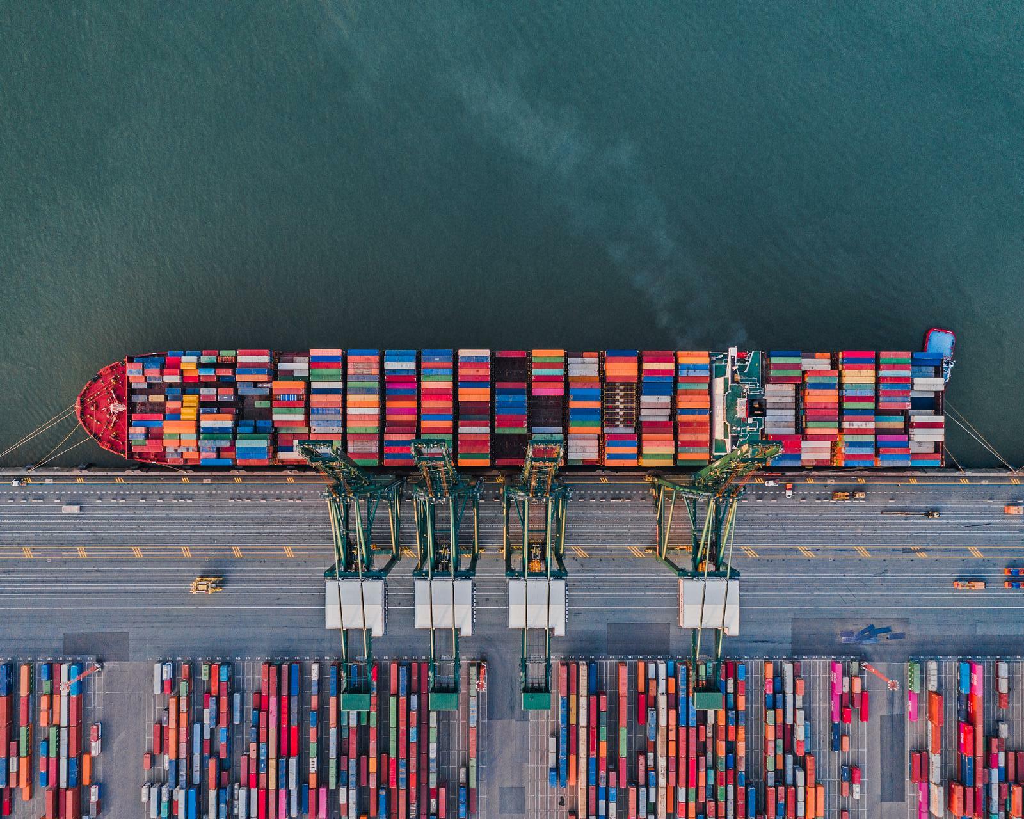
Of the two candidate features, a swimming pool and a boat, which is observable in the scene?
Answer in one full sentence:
It is a boat that can be seen here.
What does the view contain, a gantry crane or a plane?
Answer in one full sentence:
The one in the frame is a gantry crane.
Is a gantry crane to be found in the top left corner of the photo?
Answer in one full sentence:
No, I see no gantry crane in the top left corner of the photo.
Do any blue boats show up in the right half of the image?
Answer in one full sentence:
Yes, I can see a blue boat in the right half of the image.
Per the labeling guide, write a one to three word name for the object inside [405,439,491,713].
container crane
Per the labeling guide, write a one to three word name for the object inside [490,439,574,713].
container crane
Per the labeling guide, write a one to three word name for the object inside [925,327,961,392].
boat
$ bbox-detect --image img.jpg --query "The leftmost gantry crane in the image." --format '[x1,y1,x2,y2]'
[298,439,414,713]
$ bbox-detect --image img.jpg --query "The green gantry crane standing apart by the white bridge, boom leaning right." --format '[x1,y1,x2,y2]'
[638,439,785,713]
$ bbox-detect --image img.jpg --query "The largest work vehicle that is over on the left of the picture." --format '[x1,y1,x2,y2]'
[190,574,225,594]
